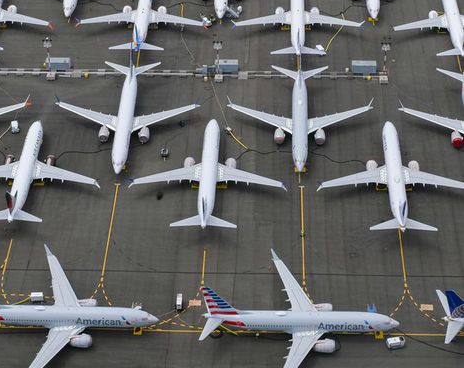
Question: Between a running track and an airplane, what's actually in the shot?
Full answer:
Visible in the photo is an airplane.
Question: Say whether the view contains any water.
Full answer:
No, there is no water in the image.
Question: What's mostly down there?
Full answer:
The bulk of the photo consists of paved ground.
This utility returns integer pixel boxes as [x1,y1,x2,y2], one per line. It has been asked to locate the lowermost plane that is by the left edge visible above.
[0,242,159,368]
